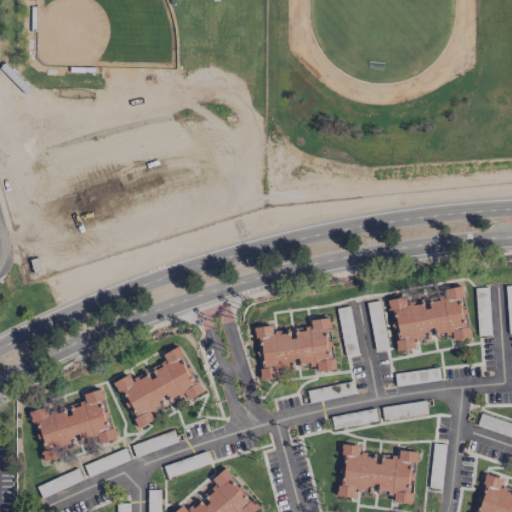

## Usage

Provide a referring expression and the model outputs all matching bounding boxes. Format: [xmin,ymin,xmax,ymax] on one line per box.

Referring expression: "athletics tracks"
[289,0,477,105]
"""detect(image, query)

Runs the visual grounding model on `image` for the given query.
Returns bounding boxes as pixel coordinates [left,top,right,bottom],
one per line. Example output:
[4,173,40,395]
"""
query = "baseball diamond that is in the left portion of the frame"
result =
[38,0,176,67]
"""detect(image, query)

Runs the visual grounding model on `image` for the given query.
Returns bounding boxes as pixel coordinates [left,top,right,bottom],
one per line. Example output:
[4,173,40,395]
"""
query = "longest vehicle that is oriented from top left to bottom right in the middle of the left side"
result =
[72,214,85,232]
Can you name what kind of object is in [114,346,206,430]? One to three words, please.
building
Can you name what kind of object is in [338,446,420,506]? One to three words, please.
building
